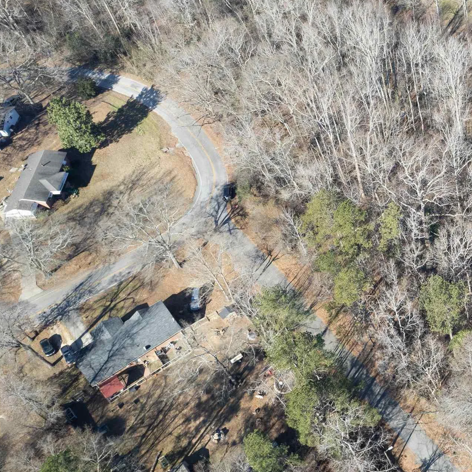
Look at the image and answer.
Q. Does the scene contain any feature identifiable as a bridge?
No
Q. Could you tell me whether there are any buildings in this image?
Yes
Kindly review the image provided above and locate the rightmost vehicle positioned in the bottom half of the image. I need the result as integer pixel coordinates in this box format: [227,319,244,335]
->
[188,285,202,312]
